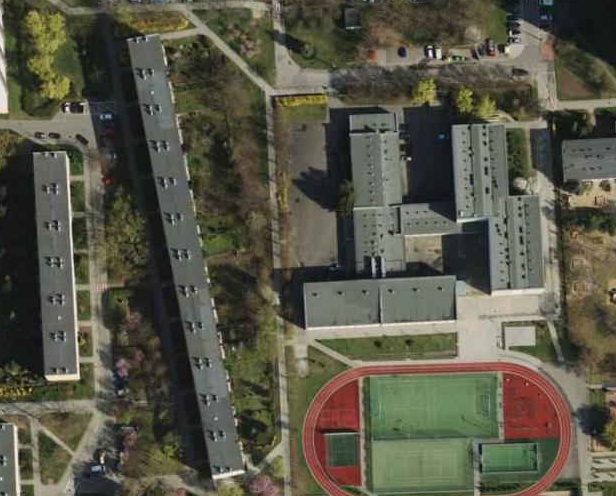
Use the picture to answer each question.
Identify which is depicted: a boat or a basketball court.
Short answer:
basketball court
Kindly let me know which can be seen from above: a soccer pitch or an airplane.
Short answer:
soccer pitch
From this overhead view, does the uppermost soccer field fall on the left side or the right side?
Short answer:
right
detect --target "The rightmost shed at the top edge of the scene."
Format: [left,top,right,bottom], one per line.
[345,8,361,30]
